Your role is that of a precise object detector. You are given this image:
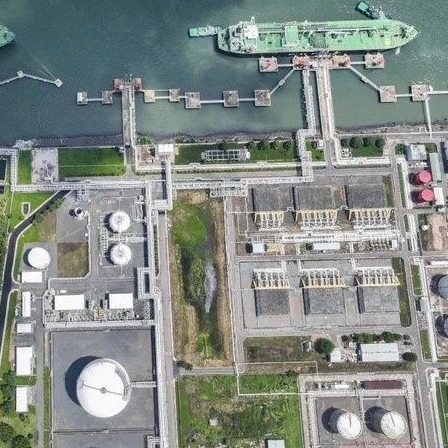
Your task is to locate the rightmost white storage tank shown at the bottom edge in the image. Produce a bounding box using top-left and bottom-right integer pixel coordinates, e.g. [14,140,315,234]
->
[370,409,407,440]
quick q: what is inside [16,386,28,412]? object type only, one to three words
building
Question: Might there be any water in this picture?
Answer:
Yes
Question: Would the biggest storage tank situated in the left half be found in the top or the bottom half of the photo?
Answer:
bottom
